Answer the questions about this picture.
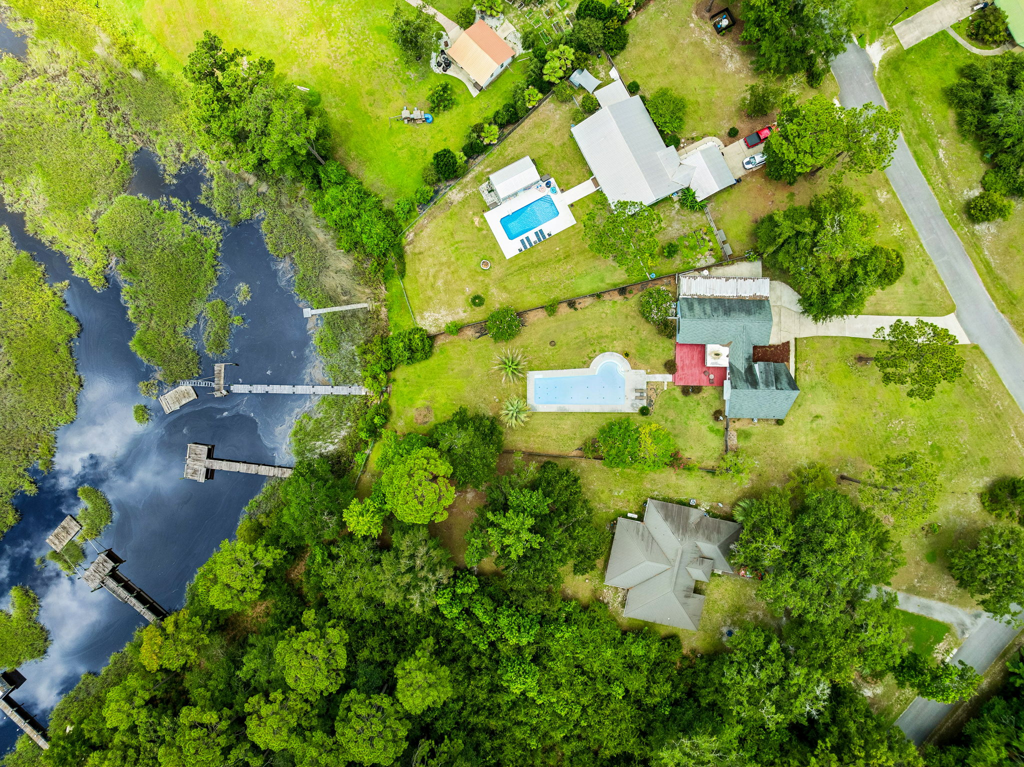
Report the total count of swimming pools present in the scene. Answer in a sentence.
I count 2 swimming pools.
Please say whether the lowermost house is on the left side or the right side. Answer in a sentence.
The lowermost house appears in the right half of the scene.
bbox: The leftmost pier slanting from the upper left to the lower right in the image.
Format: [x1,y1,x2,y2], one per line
[0,671,44,749]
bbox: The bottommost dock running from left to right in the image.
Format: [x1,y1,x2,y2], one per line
[184,443,286,483]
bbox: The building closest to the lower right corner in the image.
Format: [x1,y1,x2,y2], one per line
[604,498,743,632]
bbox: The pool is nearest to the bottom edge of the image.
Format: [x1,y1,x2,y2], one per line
[527,353,646,412]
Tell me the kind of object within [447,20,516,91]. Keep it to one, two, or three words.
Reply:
house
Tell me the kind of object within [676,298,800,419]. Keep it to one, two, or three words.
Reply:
house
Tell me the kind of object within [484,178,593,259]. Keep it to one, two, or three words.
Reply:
swimming pool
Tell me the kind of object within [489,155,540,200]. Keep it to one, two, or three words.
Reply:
building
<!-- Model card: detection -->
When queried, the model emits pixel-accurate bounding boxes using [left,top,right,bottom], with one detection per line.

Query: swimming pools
[484,178,593,259]
[527,353,646,412]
